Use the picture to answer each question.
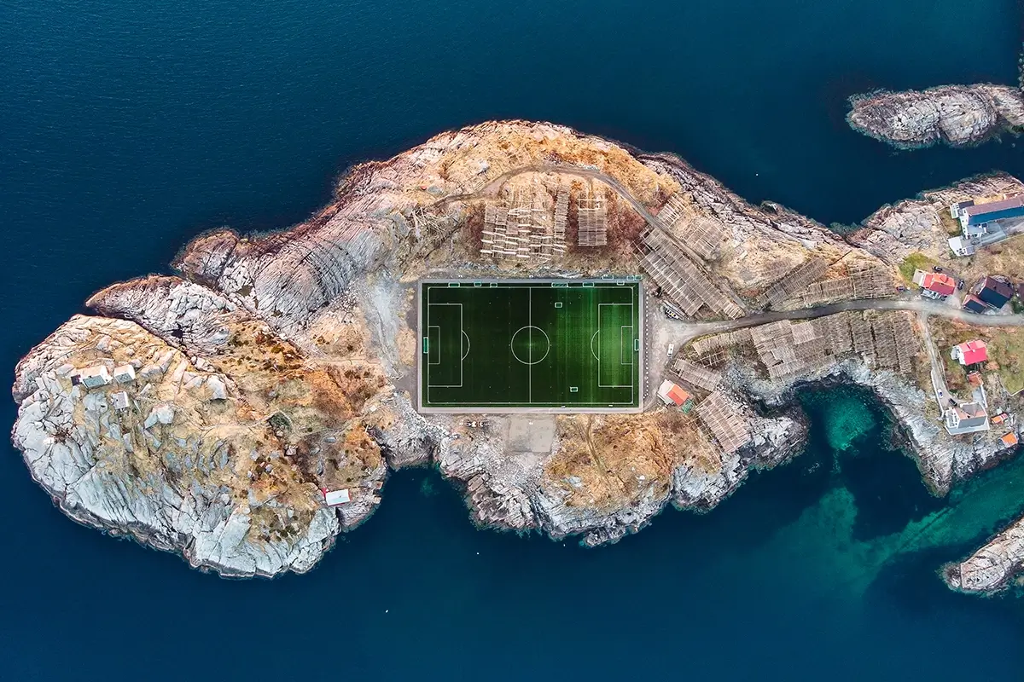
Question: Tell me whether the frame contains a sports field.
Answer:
Yes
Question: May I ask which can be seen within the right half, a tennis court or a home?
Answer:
home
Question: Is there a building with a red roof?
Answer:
Yes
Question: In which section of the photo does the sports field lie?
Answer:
center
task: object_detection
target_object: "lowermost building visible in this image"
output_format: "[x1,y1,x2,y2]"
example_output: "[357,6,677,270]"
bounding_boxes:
[322,487,352,506]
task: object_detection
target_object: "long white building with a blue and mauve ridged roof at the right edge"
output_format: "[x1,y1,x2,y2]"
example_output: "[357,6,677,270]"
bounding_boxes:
[944,189,1024,242]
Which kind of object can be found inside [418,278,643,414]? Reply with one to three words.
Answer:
sports field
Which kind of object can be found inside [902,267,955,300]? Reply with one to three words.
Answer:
house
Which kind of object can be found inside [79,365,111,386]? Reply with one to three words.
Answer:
building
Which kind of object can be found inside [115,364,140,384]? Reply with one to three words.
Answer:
building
